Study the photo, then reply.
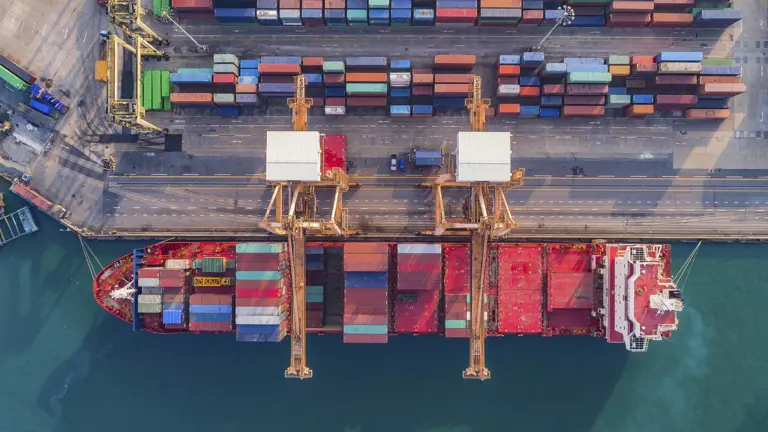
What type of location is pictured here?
port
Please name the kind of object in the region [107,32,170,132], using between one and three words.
container crane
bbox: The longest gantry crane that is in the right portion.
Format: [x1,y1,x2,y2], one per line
[415,74,528,380]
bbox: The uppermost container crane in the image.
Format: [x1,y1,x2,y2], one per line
[108,0,170,44]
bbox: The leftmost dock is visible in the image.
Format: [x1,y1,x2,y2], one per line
[0,206,39,248]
